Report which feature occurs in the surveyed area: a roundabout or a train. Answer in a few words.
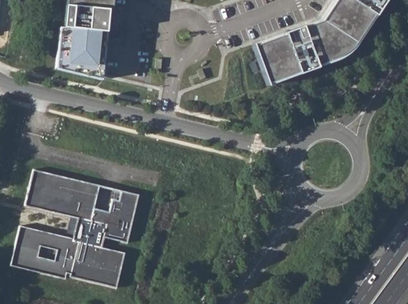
roundabout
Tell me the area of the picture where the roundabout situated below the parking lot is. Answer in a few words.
right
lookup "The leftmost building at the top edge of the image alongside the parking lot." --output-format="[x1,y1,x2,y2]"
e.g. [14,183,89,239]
[52,0,117,81]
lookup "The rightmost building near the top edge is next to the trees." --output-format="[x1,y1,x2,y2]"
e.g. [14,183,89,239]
[252,0,390,86]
